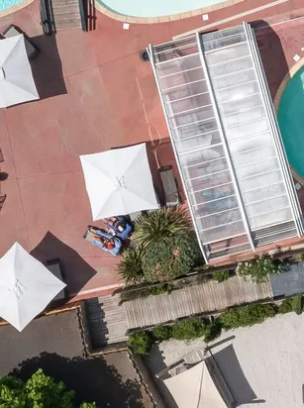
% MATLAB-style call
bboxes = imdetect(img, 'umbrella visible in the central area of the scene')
[80,142,160,222]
